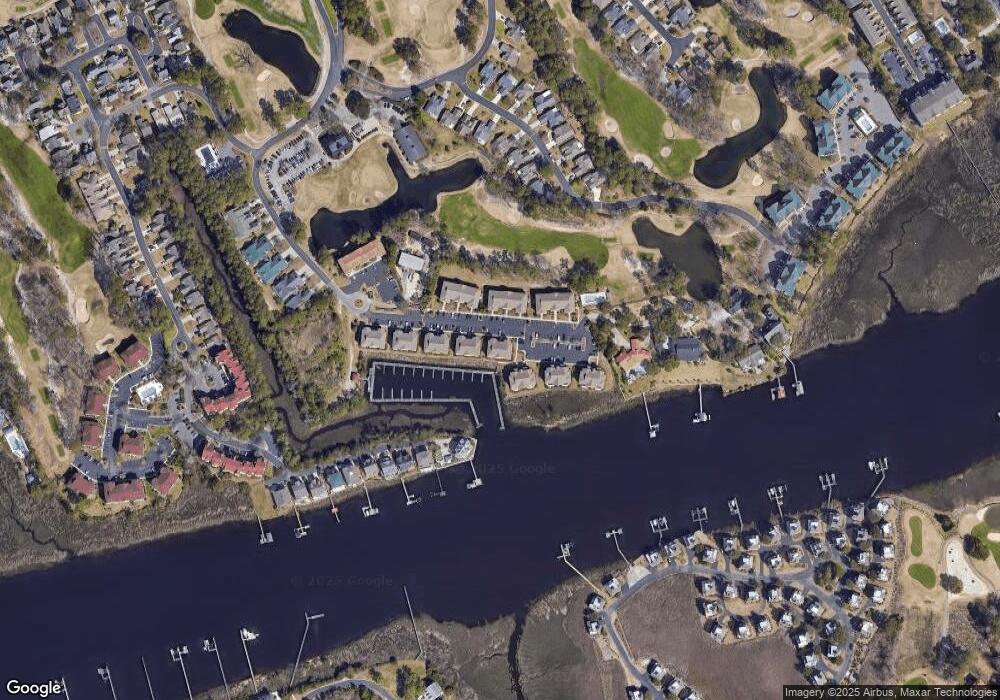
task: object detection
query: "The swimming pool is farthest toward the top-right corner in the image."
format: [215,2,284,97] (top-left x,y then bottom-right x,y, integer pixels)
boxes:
[934,16,950,36]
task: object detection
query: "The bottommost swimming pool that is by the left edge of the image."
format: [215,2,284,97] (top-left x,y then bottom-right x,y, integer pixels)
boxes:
[4,430,28,459]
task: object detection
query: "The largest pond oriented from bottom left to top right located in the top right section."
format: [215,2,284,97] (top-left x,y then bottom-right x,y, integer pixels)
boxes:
[693,66,786,188]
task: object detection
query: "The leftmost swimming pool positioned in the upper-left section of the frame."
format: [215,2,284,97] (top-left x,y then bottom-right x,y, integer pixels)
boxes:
[195,142,220,171]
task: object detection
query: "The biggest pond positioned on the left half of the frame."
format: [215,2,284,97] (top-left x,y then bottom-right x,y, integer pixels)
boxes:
[309,144,482,250]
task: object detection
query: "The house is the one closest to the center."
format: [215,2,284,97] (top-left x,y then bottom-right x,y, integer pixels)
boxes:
[485,336,511,358]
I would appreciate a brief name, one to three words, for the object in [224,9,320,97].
pond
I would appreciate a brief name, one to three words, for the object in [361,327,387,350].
house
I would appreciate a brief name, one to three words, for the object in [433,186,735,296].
golf course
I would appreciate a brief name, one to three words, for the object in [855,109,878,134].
swimming pool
